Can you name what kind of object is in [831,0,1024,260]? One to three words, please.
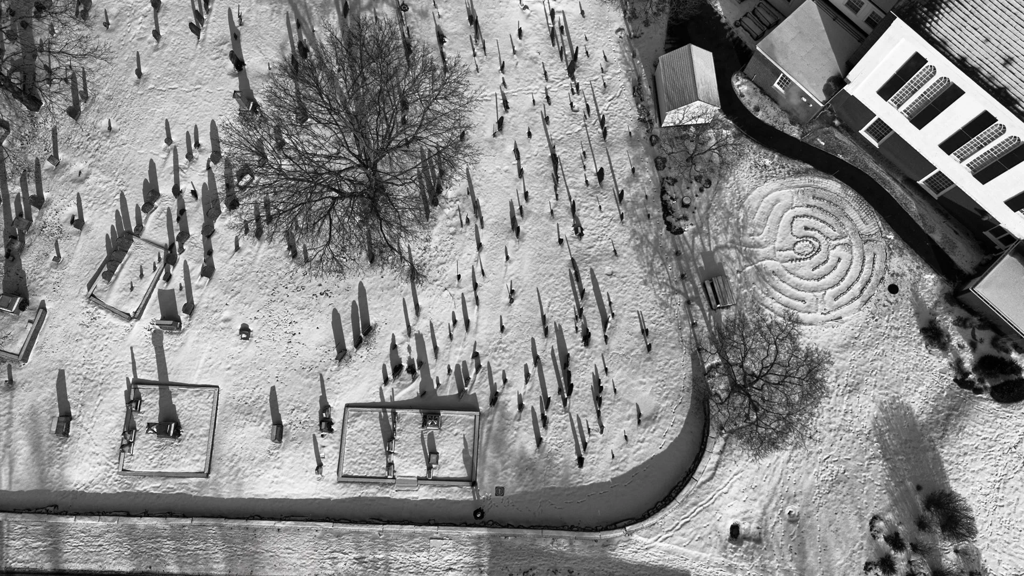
church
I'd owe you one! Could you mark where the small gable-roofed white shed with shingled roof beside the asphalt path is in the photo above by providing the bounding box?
[654,42,721,127]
